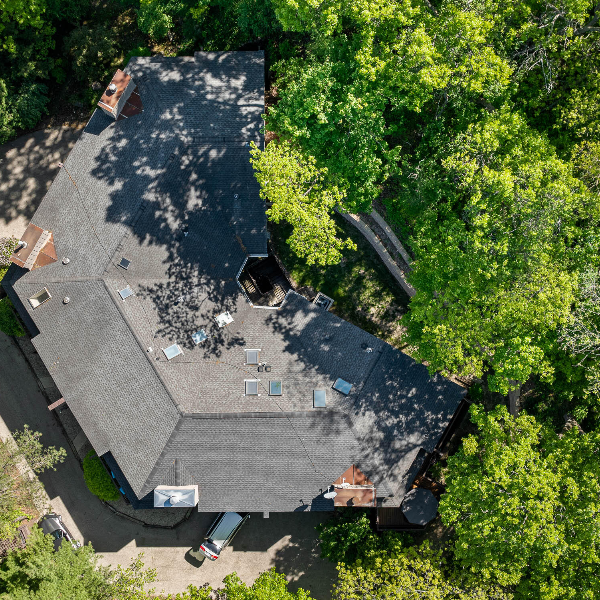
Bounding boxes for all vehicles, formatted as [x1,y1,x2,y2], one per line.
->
[39,512,84,561]
[198,512,250,562]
